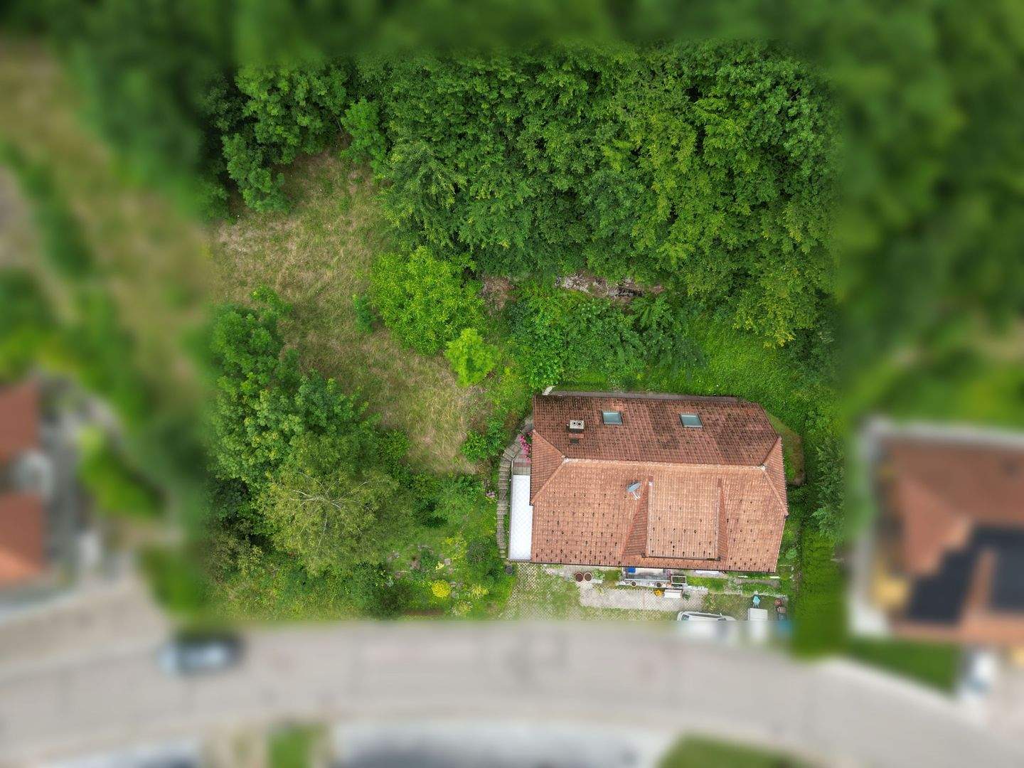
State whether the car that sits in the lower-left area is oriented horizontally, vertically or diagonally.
horizontally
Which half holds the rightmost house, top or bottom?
bottom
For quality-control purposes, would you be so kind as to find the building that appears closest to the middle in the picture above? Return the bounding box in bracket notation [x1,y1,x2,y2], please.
[527,393,790,574]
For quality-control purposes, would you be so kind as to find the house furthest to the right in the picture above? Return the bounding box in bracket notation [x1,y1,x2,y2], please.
[870,435,1024,651]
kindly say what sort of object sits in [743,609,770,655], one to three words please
trailer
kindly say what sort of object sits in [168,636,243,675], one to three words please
car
